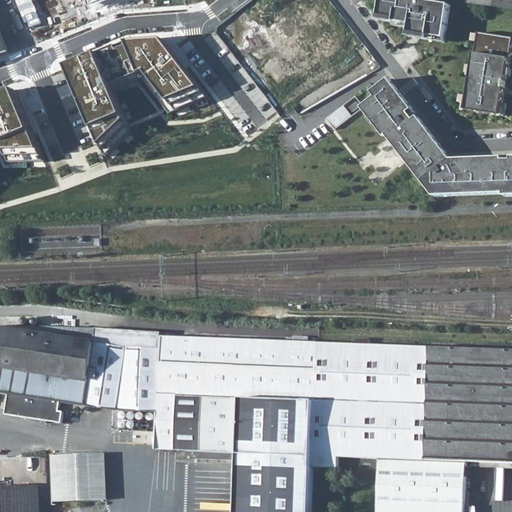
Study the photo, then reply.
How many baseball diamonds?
0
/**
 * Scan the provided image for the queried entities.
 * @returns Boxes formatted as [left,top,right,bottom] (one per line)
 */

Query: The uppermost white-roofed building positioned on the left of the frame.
[16,0,44,30]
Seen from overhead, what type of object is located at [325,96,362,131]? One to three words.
building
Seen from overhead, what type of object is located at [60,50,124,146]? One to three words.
building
